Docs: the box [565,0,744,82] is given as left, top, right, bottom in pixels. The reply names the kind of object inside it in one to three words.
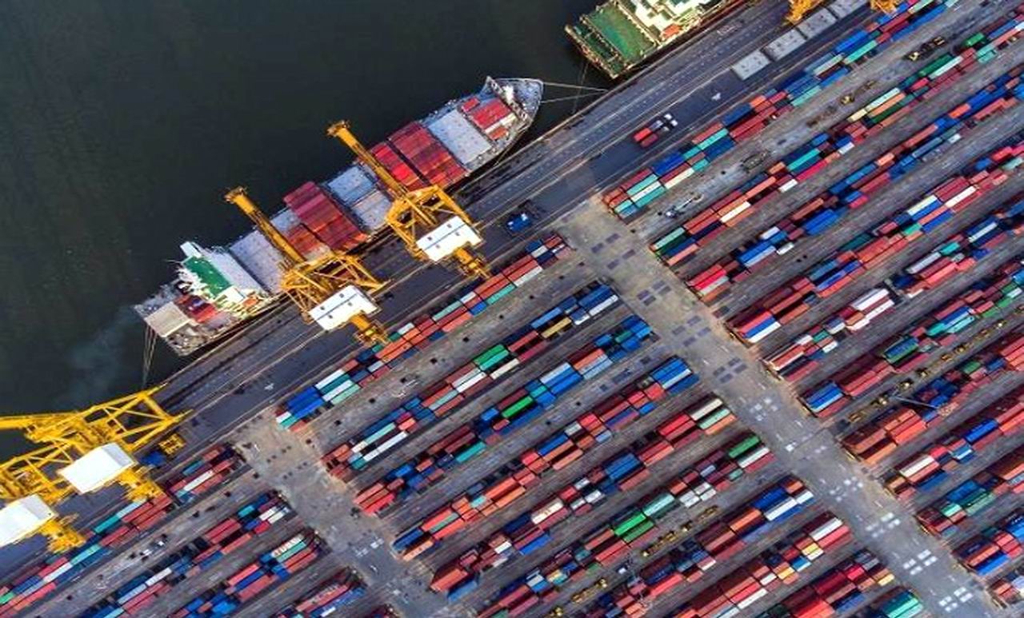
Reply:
ship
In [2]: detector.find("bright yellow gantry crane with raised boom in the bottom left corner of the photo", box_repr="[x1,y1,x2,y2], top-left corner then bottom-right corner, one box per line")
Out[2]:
[0,445,91,564]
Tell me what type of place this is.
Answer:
port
